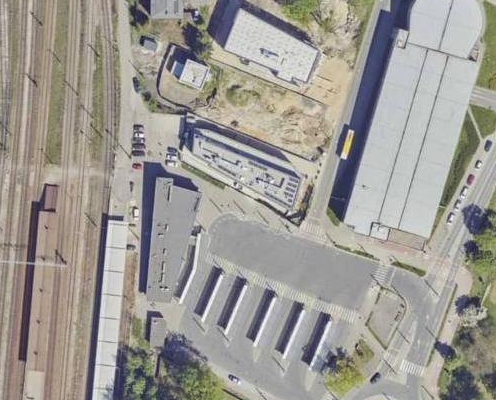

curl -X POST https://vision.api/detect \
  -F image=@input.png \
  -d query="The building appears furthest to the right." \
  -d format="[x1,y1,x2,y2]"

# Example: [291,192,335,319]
[343,0,485,251]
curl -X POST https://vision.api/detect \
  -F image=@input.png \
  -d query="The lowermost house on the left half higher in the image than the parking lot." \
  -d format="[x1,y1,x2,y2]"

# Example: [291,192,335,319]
[171,59,209,89]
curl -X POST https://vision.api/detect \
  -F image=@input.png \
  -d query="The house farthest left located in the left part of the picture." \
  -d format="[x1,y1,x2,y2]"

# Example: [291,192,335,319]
[43,184,58,210]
